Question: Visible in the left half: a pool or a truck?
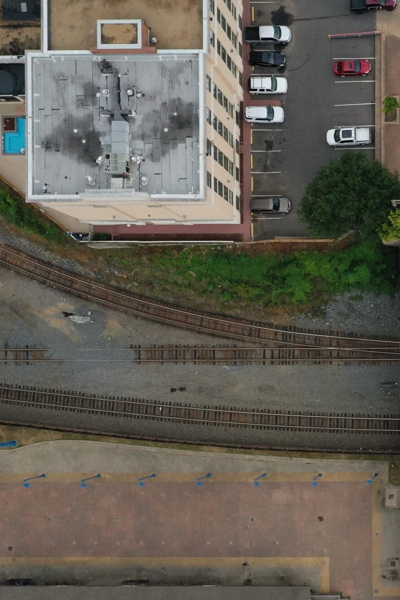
pool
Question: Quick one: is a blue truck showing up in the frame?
No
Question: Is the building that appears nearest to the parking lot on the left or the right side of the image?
left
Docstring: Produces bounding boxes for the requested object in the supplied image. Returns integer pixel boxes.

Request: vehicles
[245,104,286,124]
[246,23,293,45]
[333,58,372,77]
[248,50,287,69]
[251,196,292,215]
[349,0,396,16]
[248,75,288,95]
[326,125,372,146]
